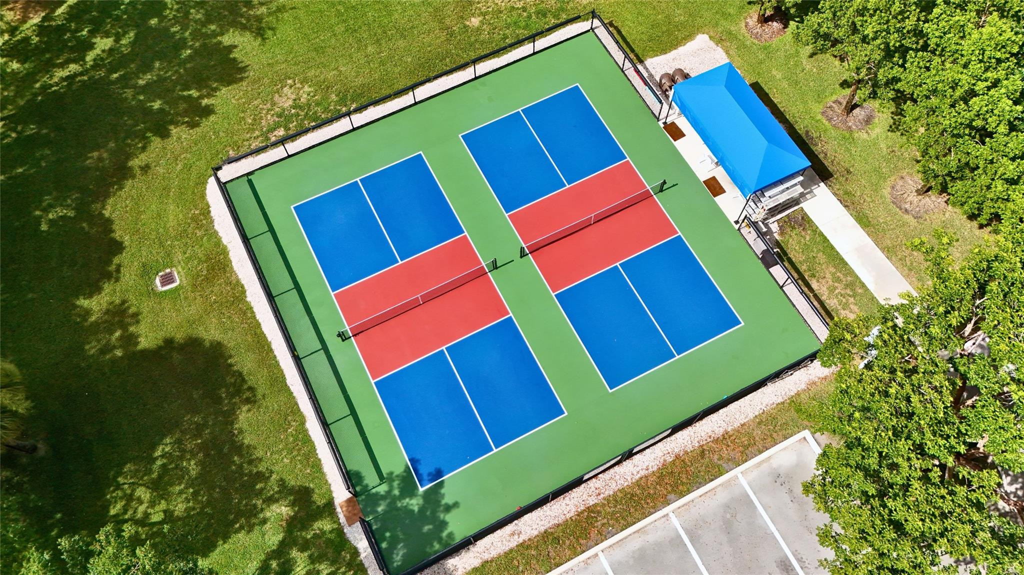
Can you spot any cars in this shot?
No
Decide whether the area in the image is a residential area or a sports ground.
sports ground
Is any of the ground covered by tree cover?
Yes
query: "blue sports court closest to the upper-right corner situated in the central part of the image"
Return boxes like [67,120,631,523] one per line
[459,84,742,392]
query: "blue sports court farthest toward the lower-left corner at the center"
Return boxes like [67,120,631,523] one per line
[292,150,567,490]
